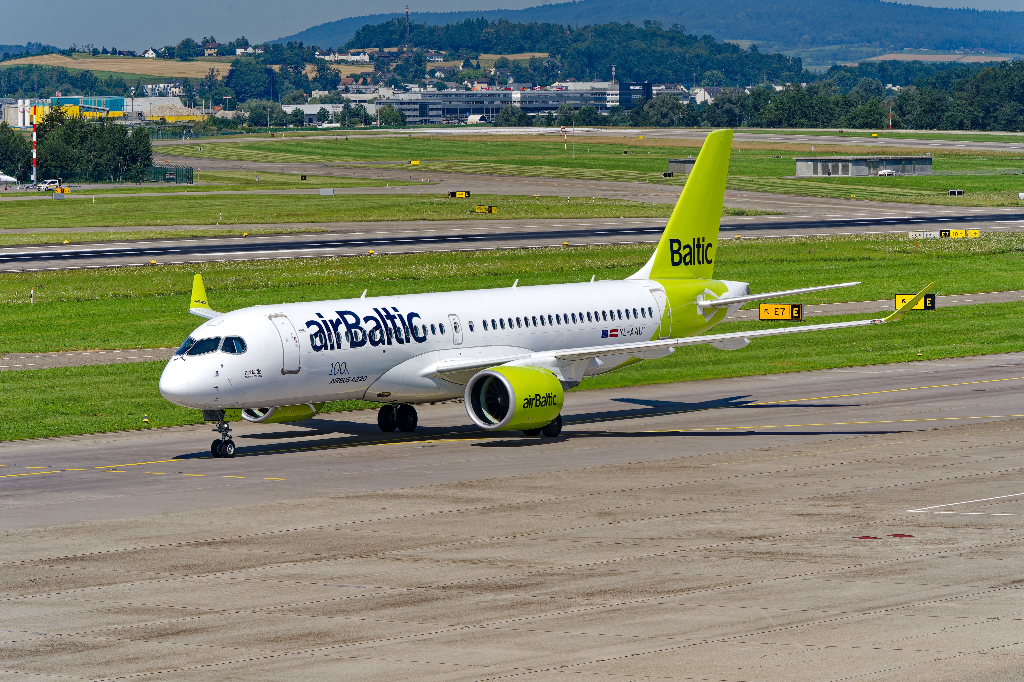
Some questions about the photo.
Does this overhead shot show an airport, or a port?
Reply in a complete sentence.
It's an airport.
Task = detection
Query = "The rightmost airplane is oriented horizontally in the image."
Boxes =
[158,129,939,458]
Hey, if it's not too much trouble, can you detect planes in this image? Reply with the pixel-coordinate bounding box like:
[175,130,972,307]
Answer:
[0,173,17,189]
[158,129,939,458]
